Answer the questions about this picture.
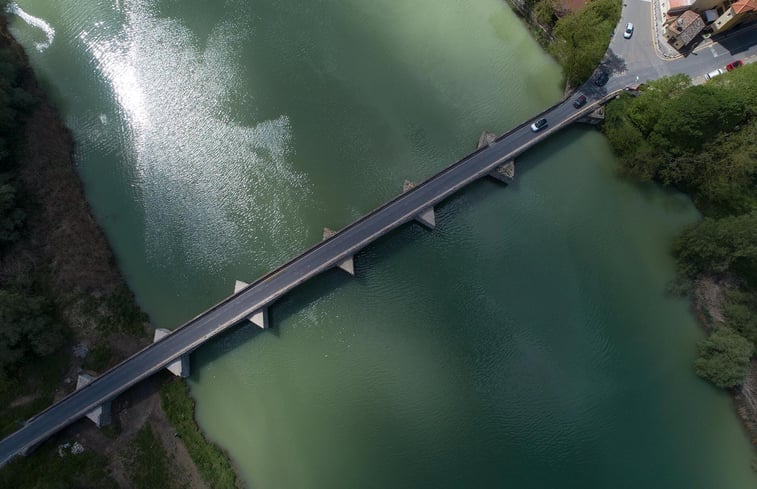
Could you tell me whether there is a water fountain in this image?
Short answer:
No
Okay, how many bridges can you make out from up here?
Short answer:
1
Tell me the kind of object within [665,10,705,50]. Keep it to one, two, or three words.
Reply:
house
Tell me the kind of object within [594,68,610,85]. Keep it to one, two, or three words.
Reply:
car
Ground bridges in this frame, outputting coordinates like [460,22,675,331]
[23,78,625,445]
